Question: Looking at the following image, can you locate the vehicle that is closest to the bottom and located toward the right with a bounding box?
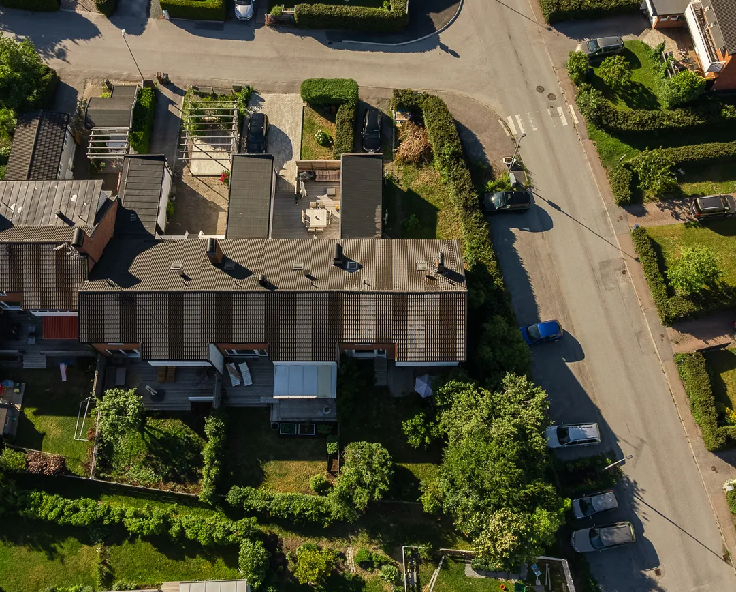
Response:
[571,521,639,556]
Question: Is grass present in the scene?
Yes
